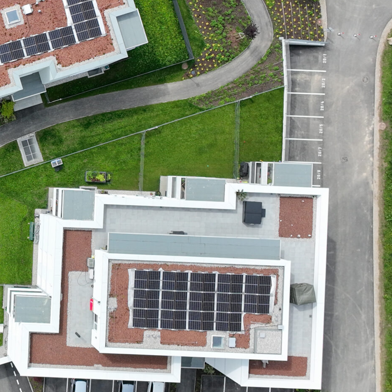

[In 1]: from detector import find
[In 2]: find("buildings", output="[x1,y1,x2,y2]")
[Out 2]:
[0,163,329,390]
[0,0,148,102]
